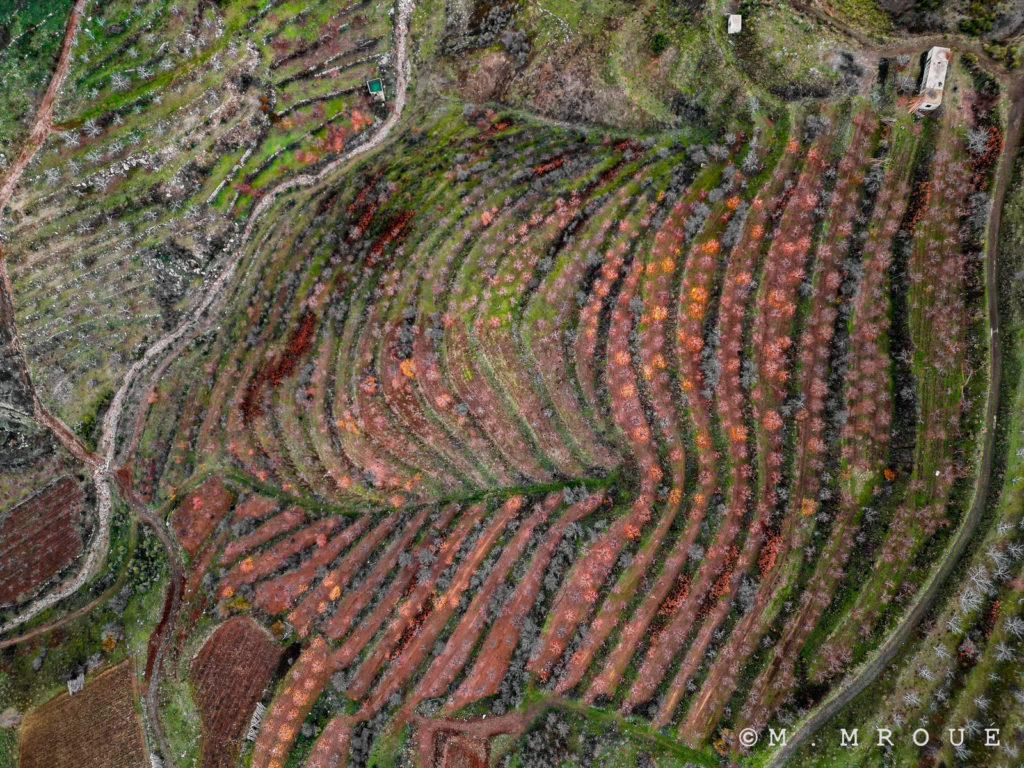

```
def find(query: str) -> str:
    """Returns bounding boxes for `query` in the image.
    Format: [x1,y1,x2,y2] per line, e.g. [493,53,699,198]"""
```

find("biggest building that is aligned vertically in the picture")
[915,46,951,110]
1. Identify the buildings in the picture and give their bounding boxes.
[915,46,951,110]
[727,14,742,33]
